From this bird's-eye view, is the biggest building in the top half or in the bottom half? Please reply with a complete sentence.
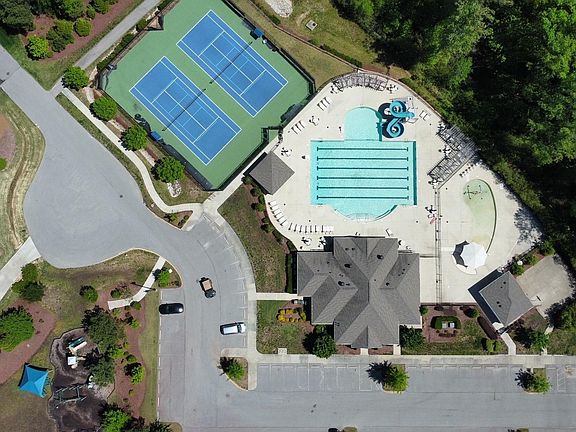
You can find the biggest building in the bottom half.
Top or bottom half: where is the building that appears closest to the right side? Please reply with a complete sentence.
Seen from above, the building that appears closest to the right side lies in the bottom half of the view.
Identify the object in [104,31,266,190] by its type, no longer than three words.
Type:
tennis court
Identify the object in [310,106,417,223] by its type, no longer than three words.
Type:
swimming pool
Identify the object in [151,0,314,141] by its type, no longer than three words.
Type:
tennis court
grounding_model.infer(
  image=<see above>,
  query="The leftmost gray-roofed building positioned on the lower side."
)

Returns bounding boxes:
[297,237,421,348]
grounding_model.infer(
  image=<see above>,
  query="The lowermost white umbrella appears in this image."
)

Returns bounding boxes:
[460,241,487,267]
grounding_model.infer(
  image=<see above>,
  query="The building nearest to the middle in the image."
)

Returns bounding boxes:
[249,151,295,195]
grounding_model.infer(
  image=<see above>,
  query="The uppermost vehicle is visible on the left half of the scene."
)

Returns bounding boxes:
[199,277,216,300]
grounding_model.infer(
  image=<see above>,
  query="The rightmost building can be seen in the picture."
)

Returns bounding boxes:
[477,270,533,330]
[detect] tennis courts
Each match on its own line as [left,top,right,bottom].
[104,31,266,190]
[151,0,314,141]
